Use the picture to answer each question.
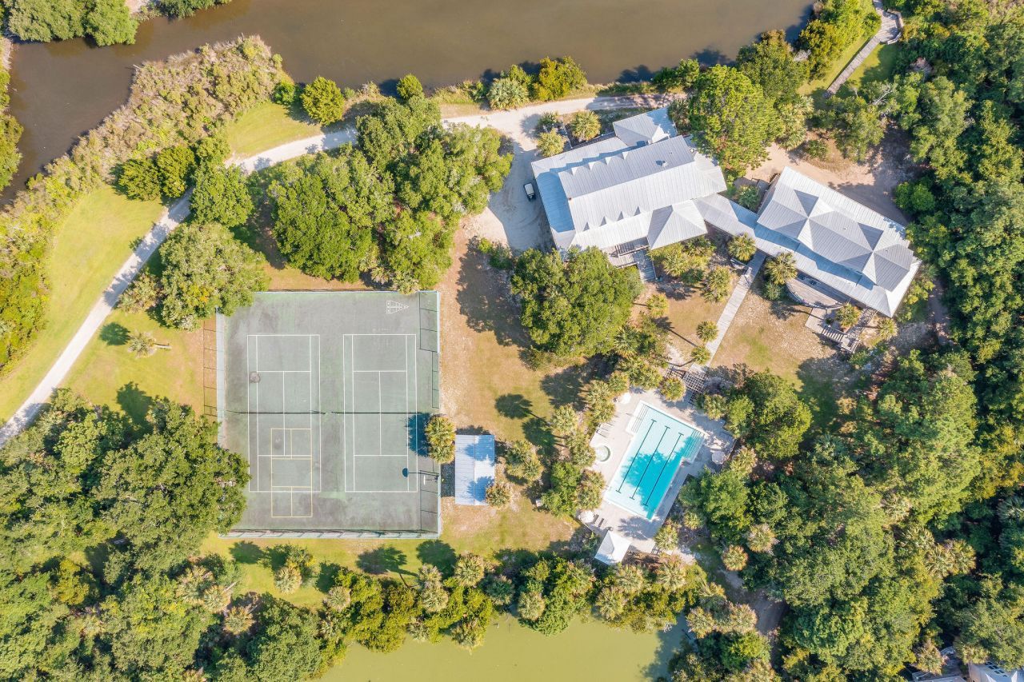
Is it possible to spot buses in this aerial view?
No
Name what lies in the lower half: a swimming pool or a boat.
swimming pool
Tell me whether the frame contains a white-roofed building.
Yes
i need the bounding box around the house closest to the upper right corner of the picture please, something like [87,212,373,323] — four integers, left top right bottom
[738,166,927,316]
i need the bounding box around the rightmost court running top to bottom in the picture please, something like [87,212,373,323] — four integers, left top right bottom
[343,334,418,492]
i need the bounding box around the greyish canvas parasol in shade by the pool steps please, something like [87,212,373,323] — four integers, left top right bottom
[709,449,725,465]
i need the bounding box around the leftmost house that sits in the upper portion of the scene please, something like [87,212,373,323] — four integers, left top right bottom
[531,107,726,259]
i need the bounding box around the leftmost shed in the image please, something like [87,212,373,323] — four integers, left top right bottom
[455,435,495,506]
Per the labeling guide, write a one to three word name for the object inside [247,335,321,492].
tennis court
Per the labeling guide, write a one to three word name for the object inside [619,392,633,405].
umbrella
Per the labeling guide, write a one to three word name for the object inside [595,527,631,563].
building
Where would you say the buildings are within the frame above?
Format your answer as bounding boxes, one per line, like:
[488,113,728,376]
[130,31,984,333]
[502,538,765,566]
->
[455,435,495,506]
[941,648,1024,682]
[738,166,927,316]
[595,527,631,563]
[531,107,726,259]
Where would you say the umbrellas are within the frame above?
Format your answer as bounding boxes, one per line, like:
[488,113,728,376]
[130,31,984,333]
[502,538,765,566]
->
[619,392,633,405]
[709,449,725,465]
[579,508,597,525]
